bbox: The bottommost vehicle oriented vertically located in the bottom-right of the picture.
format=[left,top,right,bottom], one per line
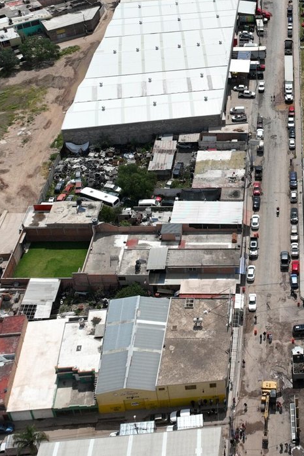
[262,378,276,431]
